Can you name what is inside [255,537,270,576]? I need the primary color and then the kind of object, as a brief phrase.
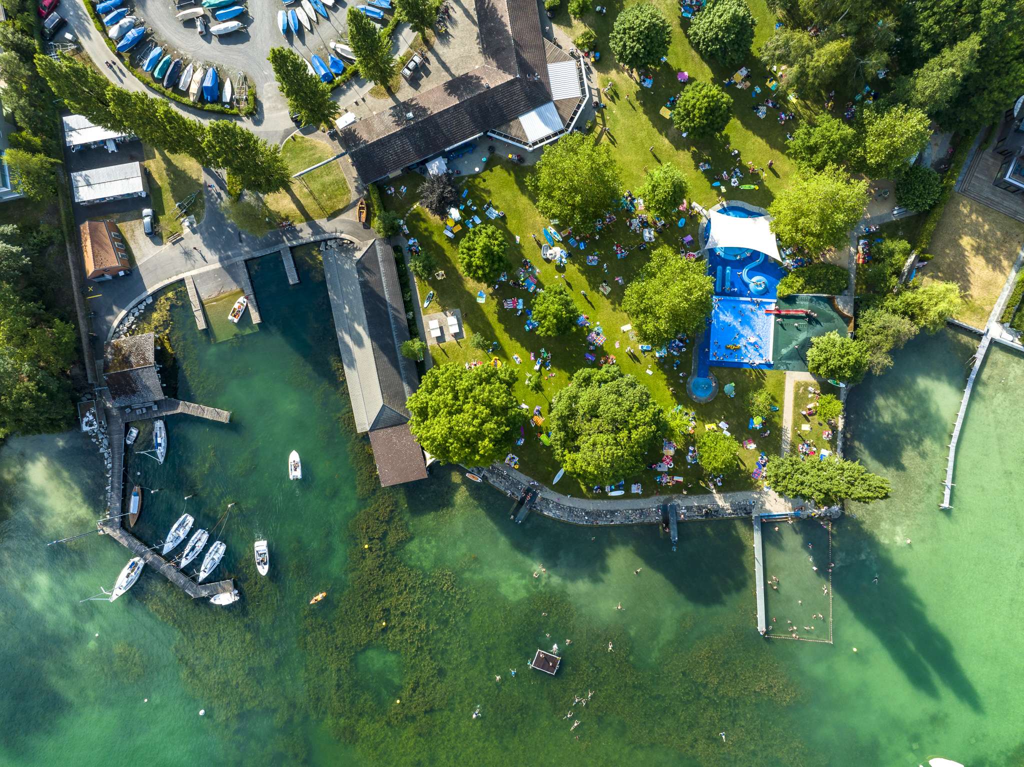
white boat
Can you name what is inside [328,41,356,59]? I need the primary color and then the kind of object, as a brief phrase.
white boat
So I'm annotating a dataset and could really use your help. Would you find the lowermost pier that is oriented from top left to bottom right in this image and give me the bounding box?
[98,514,202,599]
